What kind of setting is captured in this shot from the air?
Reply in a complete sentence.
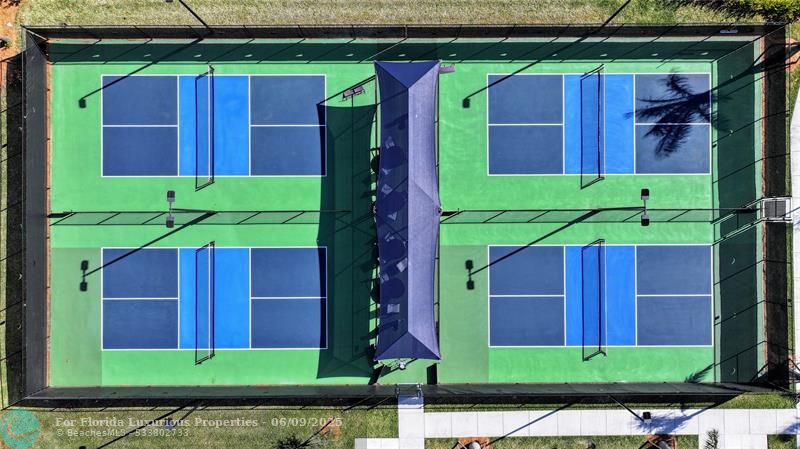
This looks like a sports ground.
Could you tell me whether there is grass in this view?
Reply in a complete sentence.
Yes, the picture does contain grass.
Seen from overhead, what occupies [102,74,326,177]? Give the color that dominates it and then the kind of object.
blue sports court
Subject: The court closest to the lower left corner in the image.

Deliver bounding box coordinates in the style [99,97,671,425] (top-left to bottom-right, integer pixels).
[102,247,327,350]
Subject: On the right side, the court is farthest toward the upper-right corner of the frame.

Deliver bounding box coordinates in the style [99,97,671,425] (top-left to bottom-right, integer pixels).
[488,73,712,176]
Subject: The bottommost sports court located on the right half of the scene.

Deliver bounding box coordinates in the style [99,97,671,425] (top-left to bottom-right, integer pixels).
[488,244,713,347]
